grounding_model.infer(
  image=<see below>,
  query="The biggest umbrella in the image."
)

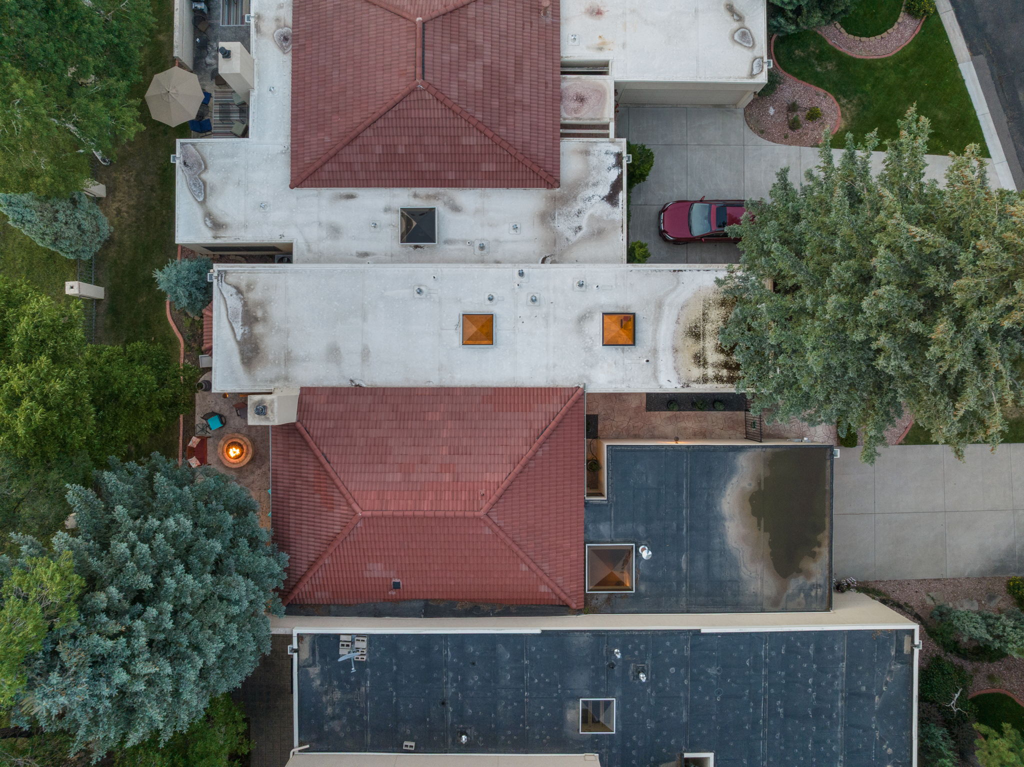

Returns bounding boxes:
[145,66,206,128]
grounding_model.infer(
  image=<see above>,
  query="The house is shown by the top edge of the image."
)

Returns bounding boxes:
[170,0,773,264]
